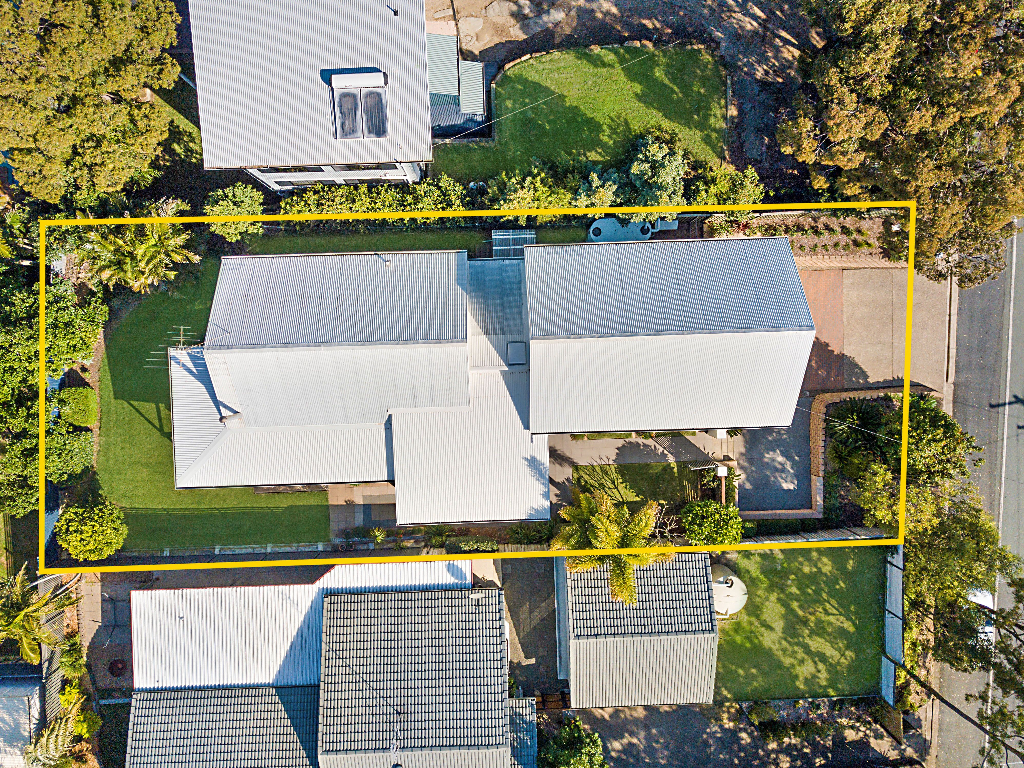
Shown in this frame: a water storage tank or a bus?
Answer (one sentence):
This aerial view contains a water storage tank.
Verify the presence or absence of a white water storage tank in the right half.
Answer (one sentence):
Yes, I can see a white water storage tank in the right half.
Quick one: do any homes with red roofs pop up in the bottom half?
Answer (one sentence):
No, there's no home with a red roof to be seen in the bottom half.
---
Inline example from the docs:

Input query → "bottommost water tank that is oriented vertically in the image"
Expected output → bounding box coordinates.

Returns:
[710,553,746,620]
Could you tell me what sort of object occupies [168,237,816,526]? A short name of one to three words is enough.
house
